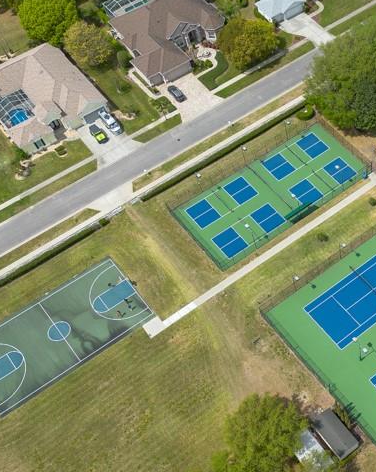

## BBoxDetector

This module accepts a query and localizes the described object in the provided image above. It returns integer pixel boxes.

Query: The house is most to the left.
[0,39,110,160]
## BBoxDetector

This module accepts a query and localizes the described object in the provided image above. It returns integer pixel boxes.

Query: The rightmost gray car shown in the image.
[168,84,184,101]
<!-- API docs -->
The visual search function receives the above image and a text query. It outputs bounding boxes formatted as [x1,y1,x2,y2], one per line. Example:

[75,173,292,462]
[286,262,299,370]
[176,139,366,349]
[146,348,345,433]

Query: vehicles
[101,111,119,132]
[168,84,184,101]
[92,124,109,142]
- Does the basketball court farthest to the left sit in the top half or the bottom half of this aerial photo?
bottom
